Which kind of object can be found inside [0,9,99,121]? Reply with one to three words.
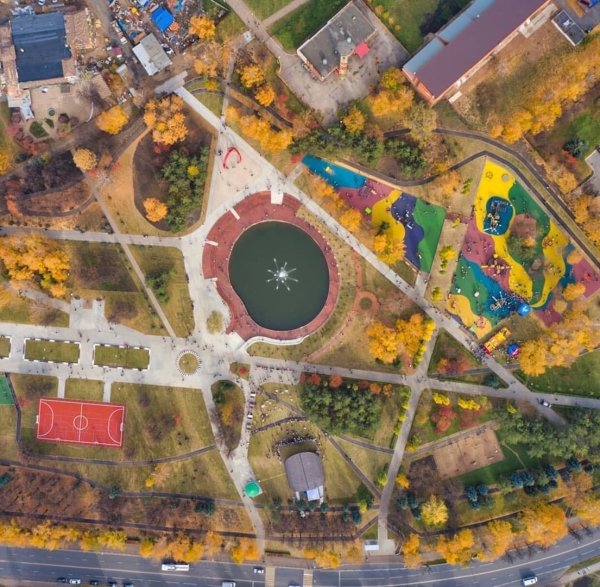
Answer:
house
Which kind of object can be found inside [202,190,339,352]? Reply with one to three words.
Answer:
pond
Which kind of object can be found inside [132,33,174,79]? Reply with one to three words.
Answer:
shed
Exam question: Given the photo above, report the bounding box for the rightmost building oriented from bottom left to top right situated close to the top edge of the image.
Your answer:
[400,0,553,103]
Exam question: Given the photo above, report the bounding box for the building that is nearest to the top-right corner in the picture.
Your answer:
[551,10,585,48]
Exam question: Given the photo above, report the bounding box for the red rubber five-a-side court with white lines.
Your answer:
[36,397,127,448]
